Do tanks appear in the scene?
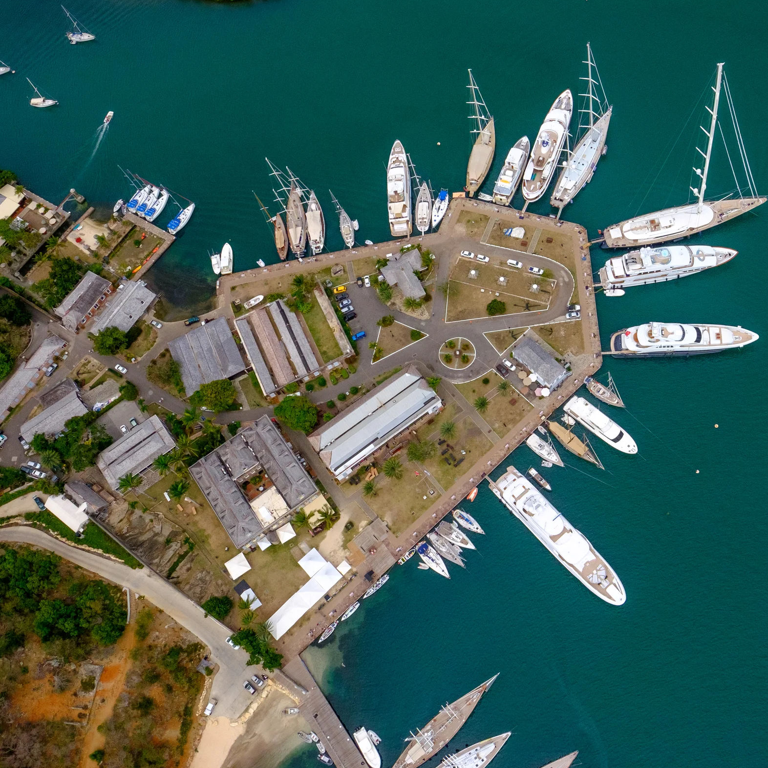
No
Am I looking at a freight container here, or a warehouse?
warehouse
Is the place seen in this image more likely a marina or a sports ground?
marina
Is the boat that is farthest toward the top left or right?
left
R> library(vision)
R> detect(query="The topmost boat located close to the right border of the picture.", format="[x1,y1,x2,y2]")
[580,60,767,254]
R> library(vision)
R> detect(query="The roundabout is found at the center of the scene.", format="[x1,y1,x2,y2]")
[439,336,476,370]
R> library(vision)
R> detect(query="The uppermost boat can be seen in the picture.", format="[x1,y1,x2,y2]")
[57,6,95,42]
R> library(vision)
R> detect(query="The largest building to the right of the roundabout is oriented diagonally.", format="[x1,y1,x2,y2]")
[513,337,570,394]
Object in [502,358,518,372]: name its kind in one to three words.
car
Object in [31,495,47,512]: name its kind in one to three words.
car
